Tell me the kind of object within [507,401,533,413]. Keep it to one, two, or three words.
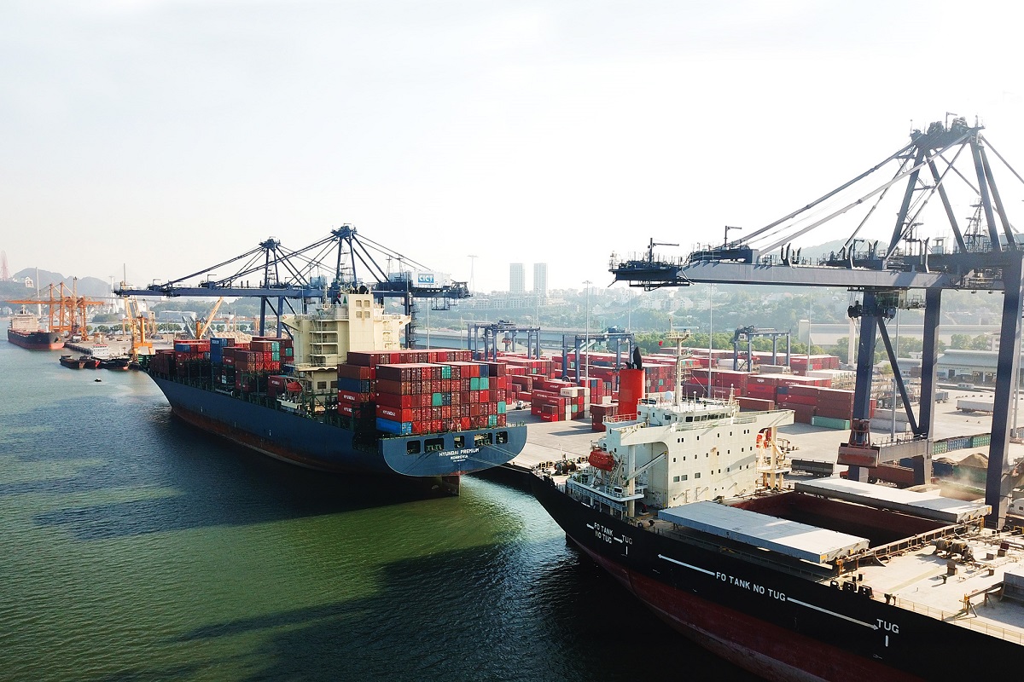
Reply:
vehicle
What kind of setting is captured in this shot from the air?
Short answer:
port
